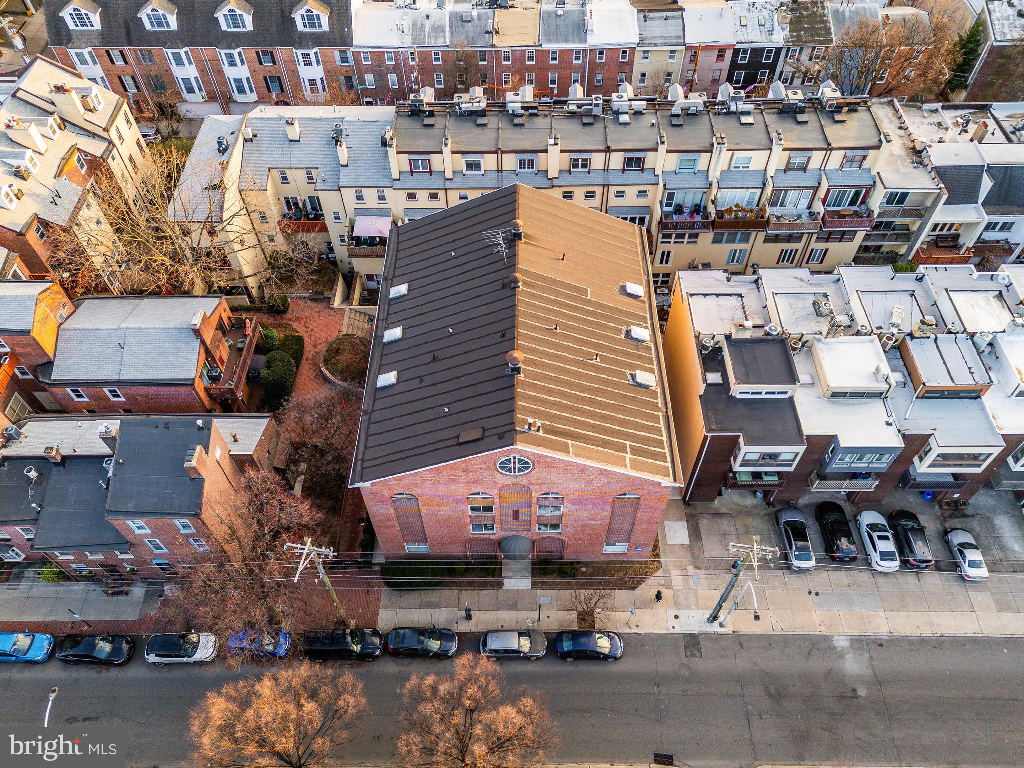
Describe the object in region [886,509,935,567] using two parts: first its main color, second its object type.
black car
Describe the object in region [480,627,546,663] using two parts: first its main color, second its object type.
gray car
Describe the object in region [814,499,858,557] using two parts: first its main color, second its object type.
black car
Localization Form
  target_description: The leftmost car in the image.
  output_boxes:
[0,628,58,663]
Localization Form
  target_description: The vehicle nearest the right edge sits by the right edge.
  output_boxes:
[941,526,990,577]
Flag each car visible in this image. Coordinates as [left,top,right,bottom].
[0,628,58,663]
[556,628,624,663]
[141,127,168,147]
[814,499,858,557]
[773,510,817,568]
[480,627,546,663]
[854,510,901,568]
[50,628,137,663]
[387,628,458,663]
[886,509,935,567]
[297,625,385,664]
[139,627,220,663]
[941,526,990,577]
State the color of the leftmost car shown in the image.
blue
